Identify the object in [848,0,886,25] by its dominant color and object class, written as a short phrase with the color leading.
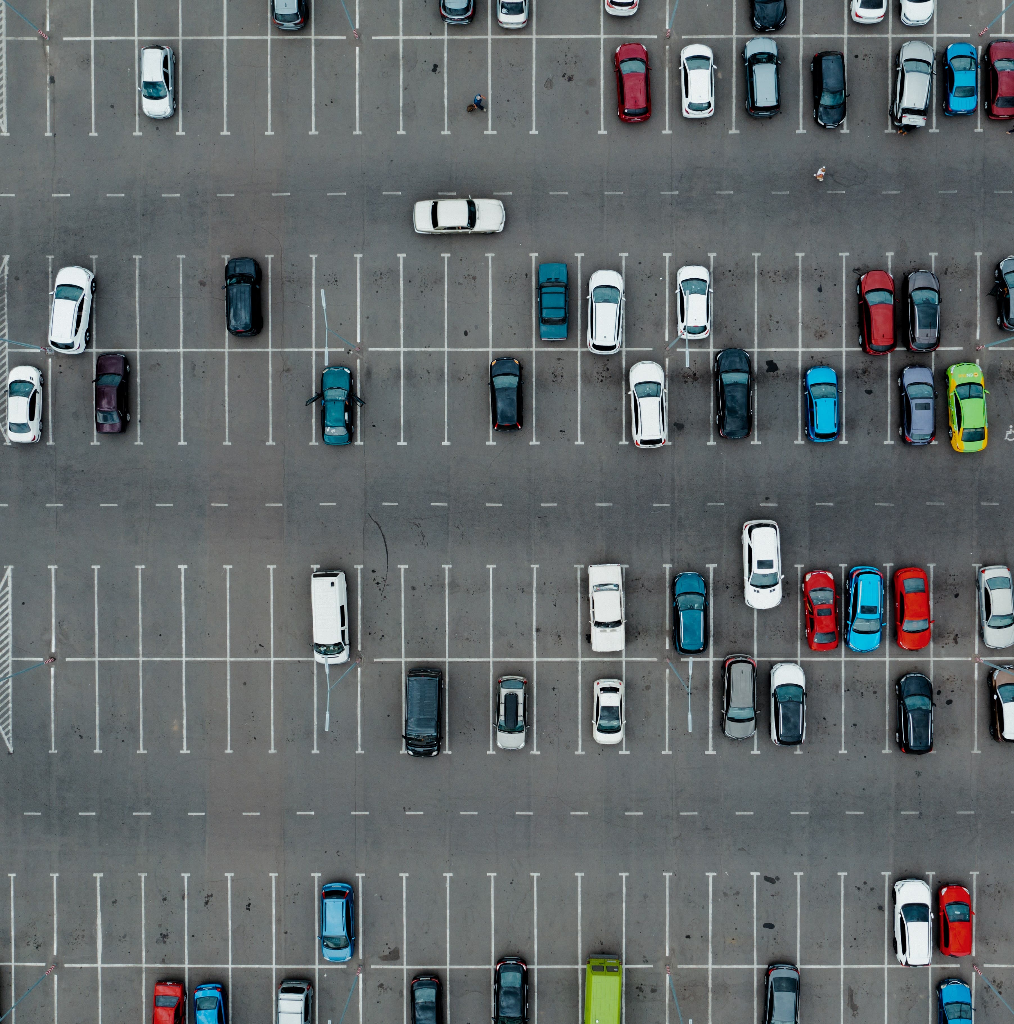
white car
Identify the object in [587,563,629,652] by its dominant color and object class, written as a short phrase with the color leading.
white car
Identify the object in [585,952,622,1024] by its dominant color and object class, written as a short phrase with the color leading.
green van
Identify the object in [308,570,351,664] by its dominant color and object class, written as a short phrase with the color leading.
white van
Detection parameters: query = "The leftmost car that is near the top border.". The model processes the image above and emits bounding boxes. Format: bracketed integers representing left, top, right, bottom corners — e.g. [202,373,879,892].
[135,45,177,119]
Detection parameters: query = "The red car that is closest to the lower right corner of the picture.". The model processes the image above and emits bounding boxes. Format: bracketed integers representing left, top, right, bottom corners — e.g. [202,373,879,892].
[936,884,979,958]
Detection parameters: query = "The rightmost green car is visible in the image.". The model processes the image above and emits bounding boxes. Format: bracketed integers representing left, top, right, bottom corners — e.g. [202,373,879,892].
[944,363,991,452]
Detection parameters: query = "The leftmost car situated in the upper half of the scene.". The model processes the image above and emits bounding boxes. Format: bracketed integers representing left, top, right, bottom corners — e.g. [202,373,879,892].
[1,365,45,443]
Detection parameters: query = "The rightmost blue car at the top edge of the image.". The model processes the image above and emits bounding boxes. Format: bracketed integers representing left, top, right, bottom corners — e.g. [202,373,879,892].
[940,42,985,116]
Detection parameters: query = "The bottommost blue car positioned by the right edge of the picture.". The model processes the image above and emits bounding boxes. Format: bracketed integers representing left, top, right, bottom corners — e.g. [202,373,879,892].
[935,977,979,1024]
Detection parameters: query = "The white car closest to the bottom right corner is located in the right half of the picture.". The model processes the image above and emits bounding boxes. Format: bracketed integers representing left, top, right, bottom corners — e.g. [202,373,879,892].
[893,878,939,969]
